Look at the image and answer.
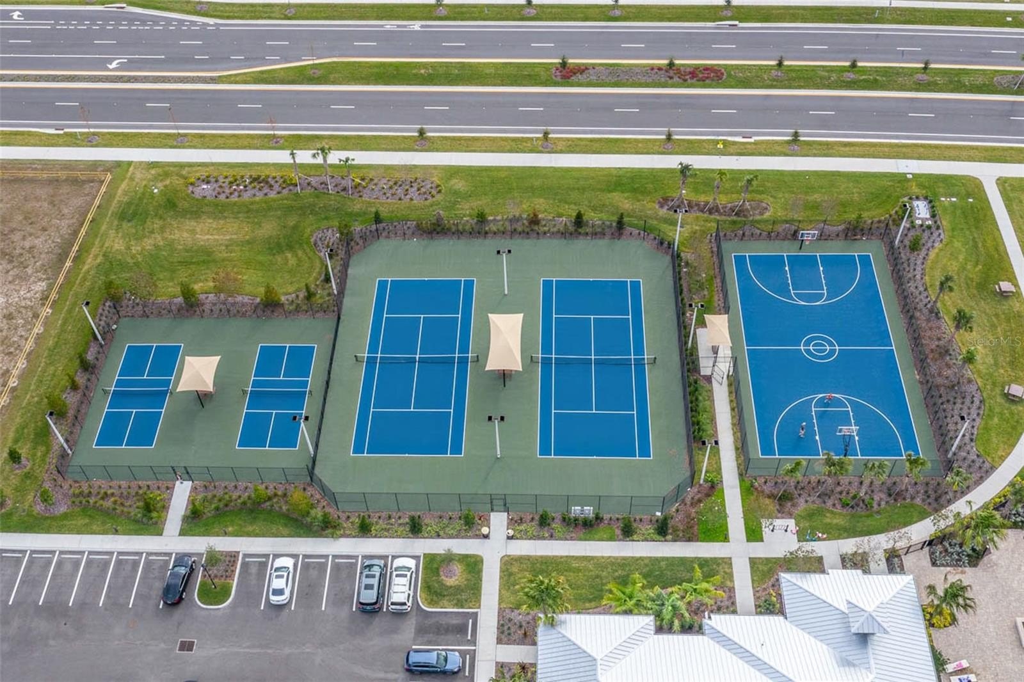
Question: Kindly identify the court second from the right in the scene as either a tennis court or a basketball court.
tennis court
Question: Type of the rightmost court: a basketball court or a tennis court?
basketball court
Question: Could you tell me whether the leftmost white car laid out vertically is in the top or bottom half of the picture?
bottom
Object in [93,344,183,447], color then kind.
blue sports court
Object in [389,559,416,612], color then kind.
white car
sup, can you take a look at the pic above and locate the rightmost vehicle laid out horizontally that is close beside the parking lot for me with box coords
[404,649,462,677]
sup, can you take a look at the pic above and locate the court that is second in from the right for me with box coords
[530,279,656,458]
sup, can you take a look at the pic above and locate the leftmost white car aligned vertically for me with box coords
[269,556,295,606]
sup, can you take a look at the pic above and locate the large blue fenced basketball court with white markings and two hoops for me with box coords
[733,253,920,458]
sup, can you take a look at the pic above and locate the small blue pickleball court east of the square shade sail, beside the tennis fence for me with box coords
[235,344,316,449]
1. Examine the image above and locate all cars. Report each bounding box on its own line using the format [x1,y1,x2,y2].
[161,554,196,606]
[389,559,416,612]
[404,649,462,677]
[269,556,295,606]
[358,560,385,613]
